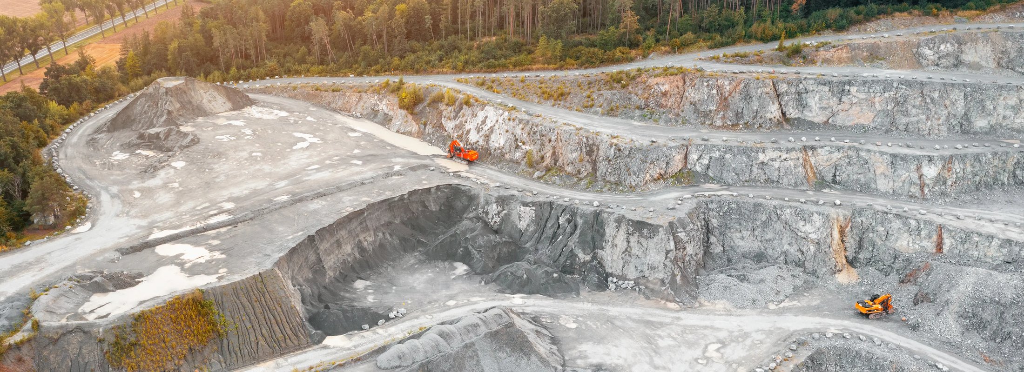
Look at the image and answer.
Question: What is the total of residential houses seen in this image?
zero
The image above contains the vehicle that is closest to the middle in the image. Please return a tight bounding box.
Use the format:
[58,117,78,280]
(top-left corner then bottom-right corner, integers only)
[444,132,476,163]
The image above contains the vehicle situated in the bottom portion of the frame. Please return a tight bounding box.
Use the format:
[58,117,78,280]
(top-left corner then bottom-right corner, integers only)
[856,292,895,321]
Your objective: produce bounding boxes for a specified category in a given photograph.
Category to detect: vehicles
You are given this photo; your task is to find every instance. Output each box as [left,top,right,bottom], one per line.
[856,292,895,321]
[444,132,476,163]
